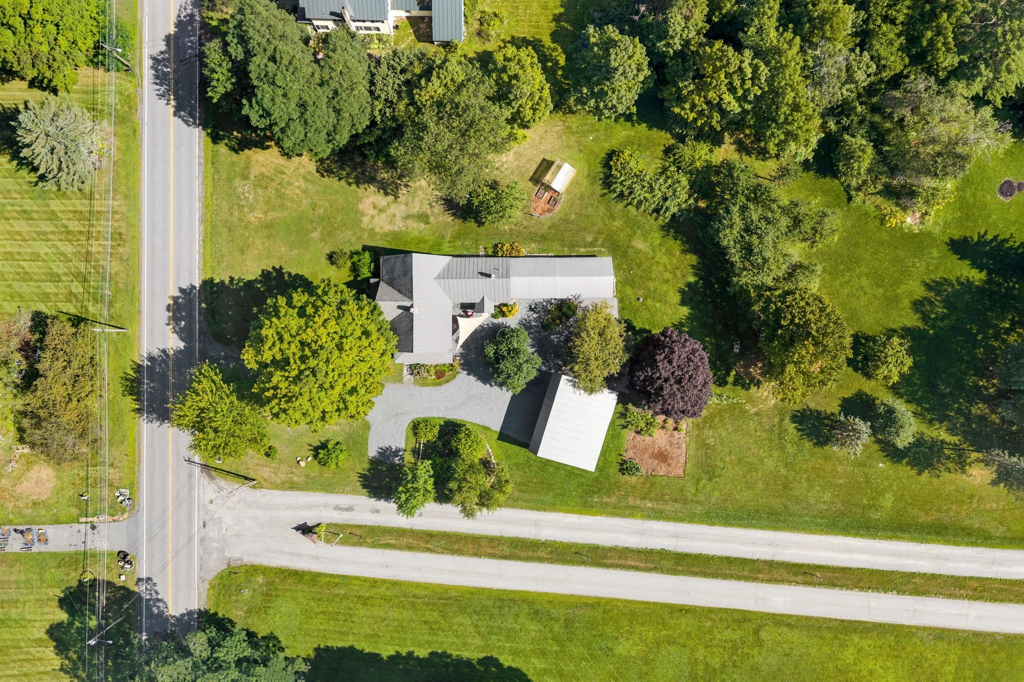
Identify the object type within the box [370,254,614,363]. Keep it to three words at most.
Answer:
house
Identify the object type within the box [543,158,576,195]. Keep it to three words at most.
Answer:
greenhouse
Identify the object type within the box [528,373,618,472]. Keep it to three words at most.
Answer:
building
